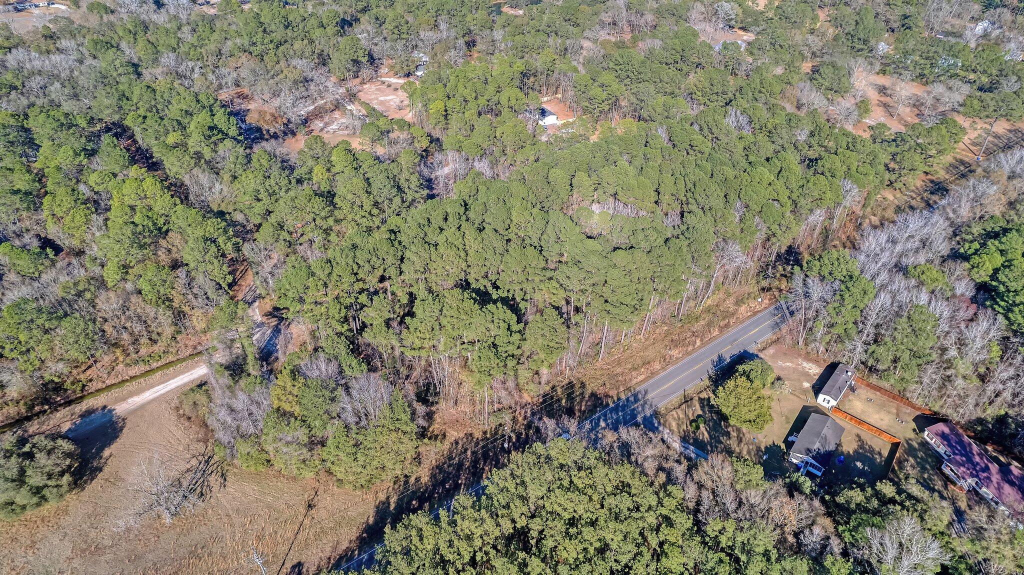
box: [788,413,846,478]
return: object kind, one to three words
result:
house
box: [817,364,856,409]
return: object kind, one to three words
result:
house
